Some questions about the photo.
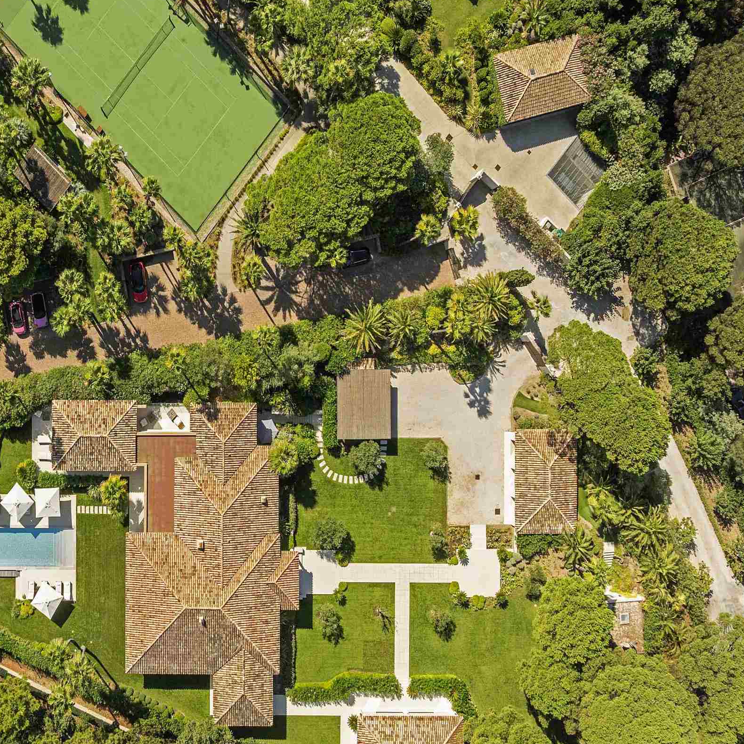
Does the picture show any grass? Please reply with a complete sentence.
Yes, there is grass in the image.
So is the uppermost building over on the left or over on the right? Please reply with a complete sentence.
The uppermost building appears in the right half of the scene.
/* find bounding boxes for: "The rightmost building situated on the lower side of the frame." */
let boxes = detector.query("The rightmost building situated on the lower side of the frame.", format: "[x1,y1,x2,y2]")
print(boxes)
[511,429,578,534]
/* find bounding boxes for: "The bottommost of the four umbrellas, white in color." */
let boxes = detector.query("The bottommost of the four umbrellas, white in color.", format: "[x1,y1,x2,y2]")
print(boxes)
[31,583,64,619]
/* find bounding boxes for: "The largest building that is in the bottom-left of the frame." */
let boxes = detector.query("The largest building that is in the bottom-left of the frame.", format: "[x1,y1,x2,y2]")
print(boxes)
[51,399,300,728]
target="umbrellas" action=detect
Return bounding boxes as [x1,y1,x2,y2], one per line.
[31,583,64,619]
[35,487,61,517]
[261,419,279,443]
[1,483,34,523]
